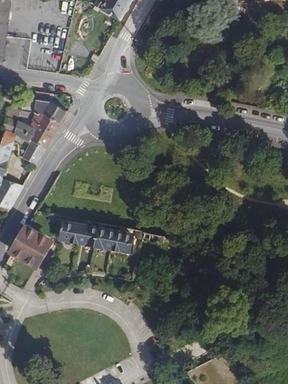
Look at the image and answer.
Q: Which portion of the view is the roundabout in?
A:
top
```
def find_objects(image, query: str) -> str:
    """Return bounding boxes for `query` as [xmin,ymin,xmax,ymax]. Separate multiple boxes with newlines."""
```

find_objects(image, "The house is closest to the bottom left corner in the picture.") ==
[7,224,54,271]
